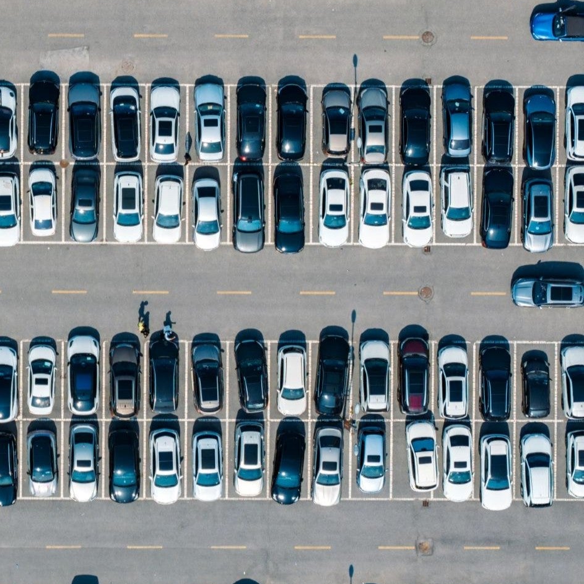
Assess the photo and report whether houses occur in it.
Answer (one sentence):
No, this view has no house in it.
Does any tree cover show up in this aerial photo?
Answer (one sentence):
No, there's no tree cover in this view.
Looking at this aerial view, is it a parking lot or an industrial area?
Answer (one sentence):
What you see here is a parking lot.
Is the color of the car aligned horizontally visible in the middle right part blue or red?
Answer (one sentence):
The car aligned horizontally visible in the middle right part is blue.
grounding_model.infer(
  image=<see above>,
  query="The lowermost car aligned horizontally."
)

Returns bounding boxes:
[510,275,584,311]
